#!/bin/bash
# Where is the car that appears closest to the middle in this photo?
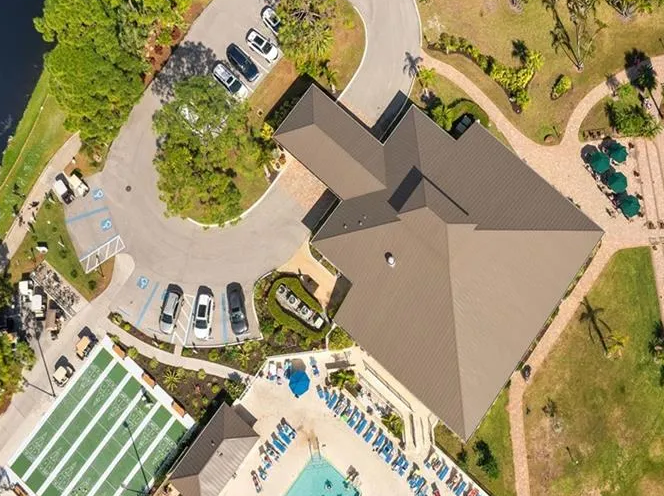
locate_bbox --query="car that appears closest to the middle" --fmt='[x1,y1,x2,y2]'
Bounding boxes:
[226,285,248,332]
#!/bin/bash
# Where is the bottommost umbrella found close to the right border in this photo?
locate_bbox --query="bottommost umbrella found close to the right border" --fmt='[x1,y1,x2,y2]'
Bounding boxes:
[620,194,640,217]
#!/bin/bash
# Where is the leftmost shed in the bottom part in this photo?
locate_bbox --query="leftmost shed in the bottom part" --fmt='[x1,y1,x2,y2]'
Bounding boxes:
[169,402,259,496]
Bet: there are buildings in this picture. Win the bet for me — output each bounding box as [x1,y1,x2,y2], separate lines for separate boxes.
[273,83,603,442]
[169,402,259,496]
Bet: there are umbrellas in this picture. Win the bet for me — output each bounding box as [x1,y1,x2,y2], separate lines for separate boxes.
[590,151,610,174]
[609,142,629,165]
[289,370,310,395]
[620,194,640,217]
[608,171,628,193]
